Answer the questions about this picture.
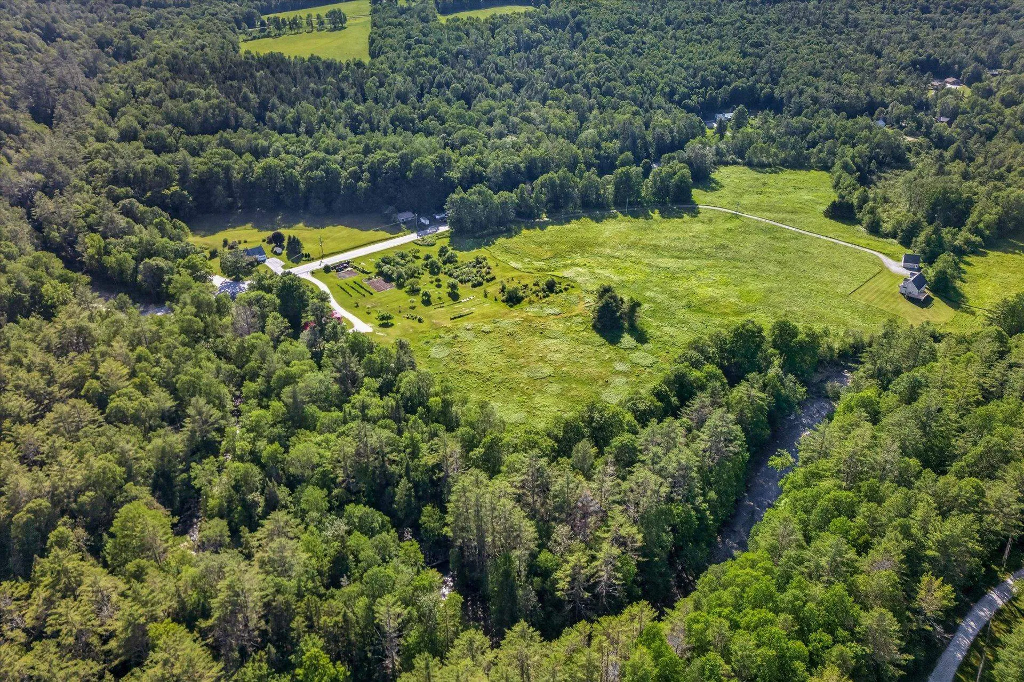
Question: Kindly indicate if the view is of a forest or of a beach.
forest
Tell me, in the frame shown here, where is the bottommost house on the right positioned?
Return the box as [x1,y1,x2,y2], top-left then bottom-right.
[894,270,932,308]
